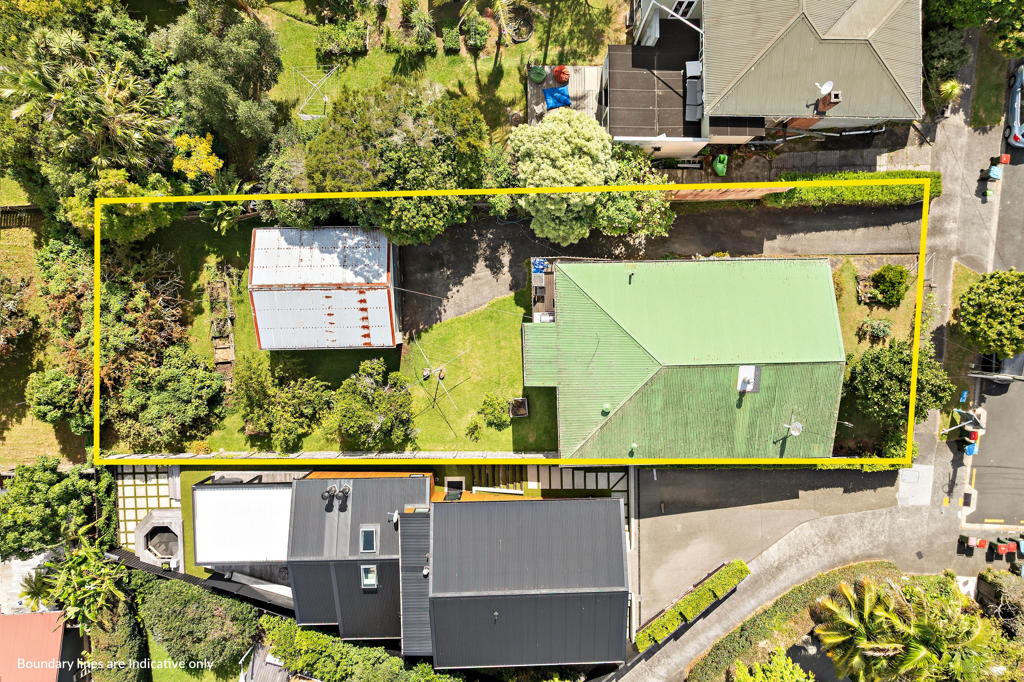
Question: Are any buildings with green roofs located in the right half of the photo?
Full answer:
Yes, the scene does show a building with a green roof in the right half of the photo.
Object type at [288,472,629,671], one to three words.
house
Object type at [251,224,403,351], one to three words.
shed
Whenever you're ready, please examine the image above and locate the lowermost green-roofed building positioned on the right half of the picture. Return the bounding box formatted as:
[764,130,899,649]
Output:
[523,255,849,470]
